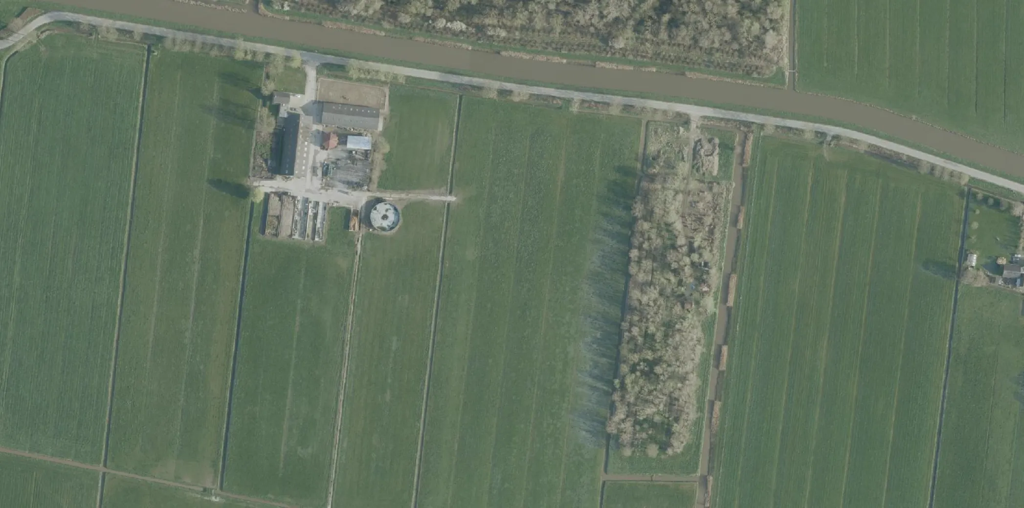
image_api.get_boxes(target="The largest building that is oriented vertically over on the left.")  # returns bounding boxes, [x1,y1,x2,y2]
[280,112,313,178]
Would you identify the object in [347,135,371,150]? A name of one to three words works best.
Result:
shed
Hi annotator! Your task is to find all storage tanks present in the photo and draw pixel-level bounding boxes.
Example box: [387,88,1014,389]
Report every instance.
[370,203,399,232]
